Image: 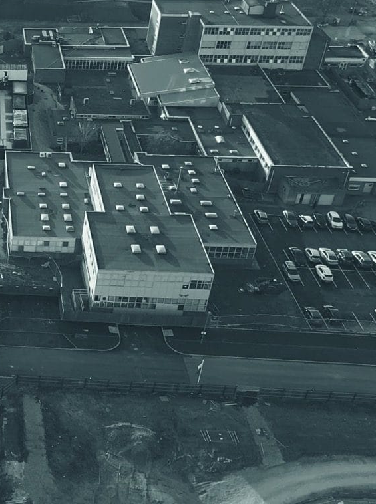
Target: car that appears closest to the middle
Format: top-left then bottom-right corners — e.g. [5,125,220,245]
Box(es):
[254,209,269,224]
